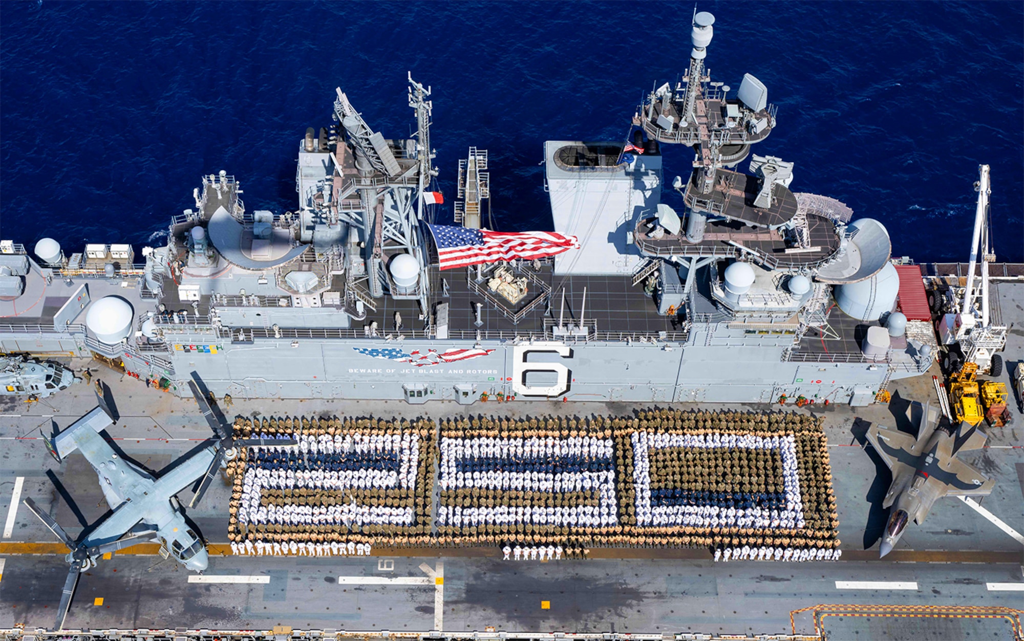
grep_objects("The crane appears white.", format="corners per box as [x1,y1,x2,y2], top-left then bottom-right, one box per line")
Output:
[933,164,1011,381]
